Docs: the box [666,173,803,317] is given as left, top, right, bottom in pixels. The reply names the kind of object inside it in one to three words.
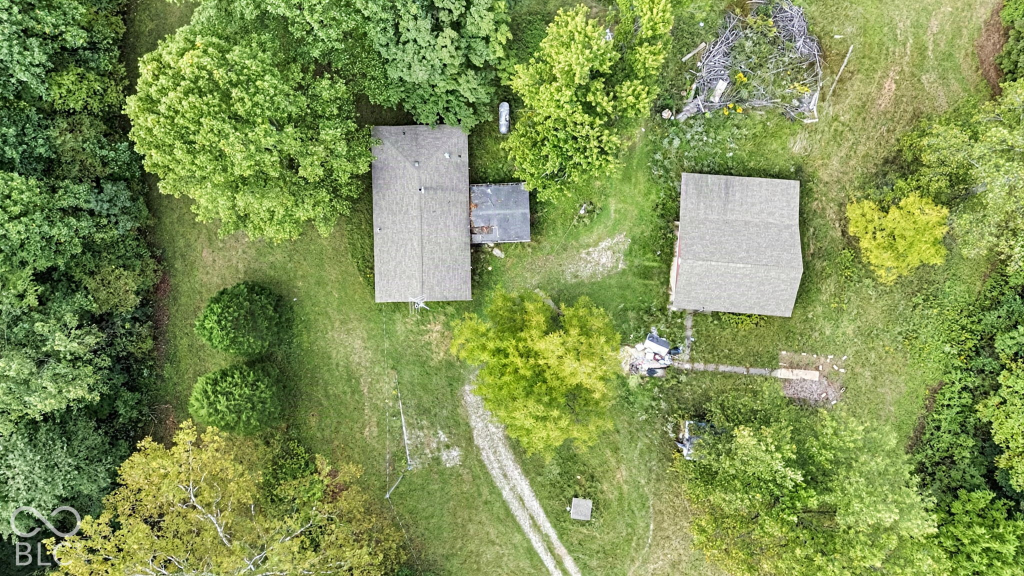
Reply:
building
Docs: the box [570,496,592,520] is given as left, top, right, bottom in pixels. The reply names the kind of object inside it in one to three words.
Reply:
building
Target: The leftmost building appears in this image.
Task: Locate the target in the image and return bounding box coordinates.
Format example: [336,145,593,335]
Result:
[371,125,473,303]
